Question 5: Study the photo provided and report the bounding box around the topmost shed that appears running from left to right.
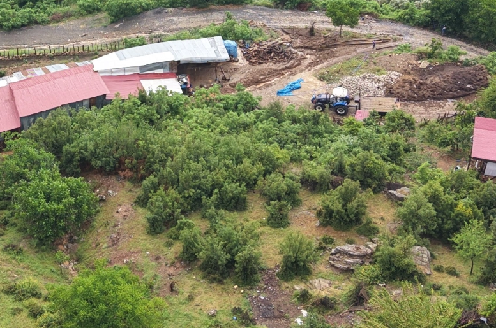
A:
[92,36,230,89]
